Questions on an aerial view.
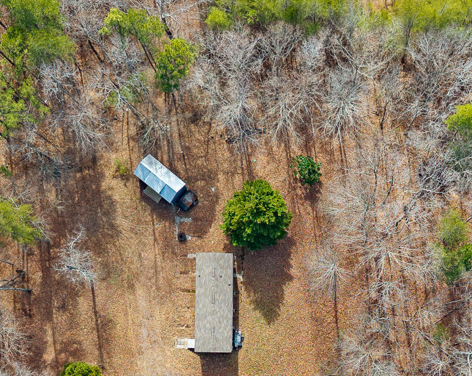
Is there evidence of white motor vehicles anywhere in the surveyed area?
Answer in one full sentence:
No, there appears to be no white motor vehicle in this shot.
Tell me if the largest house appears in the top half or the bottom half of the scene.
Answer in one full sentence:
It is in the bottom half that the largest house appears.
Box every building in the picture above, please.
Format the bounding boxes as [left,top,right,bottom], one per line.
[195,253,234,353]
[135,155,186,204]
